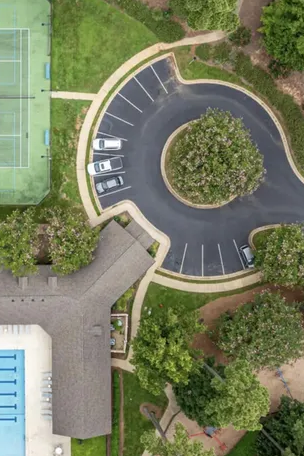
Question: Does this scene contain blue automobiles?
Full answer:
No, the picture doesn't show any blue automobile.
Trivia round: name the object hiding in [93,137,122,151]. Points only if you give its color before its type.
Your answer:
white car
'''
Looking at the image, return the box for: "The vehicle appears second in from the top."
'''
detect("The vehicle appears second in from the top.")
[87,155,124,174]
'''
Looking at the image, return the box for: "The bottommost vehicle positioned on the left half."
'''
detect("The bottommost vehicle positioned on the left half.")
[96,175,125,193]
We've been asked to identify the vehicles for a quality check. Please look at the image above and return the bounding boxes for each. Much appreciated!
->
[239,243,257,270]
[93,137,122,151]
[87,155,124,174]
[96,175,125,193]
